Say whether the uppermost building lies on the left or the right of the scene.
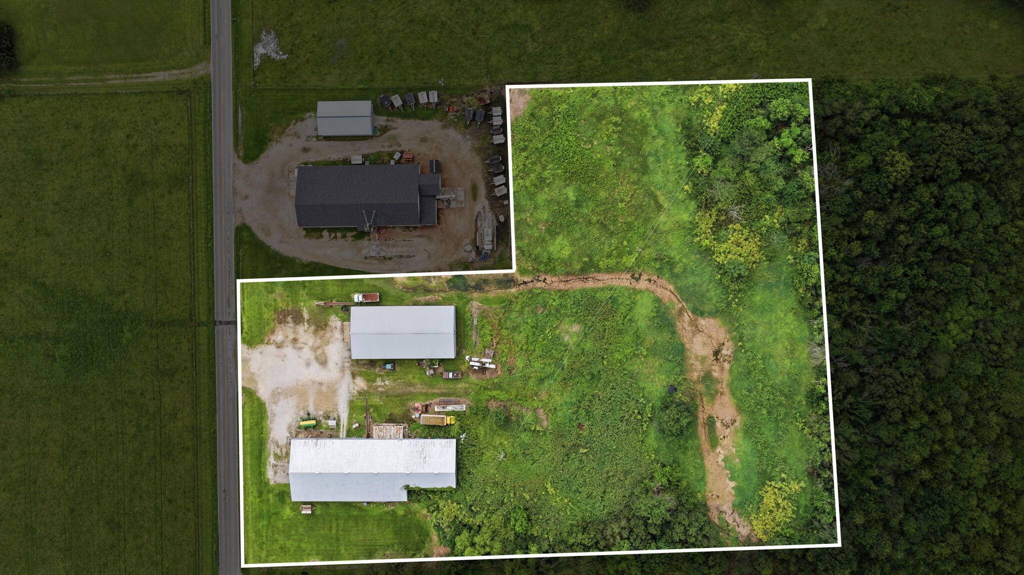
left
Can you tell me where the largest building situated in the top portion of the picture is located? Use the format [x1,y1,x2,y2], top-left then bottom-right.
[294,165,440,230]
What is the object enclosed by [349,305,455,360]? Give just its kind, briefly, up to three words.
barn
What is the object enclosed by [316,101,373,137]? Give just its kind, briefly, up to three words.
building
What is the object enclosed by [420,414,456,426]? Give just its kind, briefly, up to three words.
vehicle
